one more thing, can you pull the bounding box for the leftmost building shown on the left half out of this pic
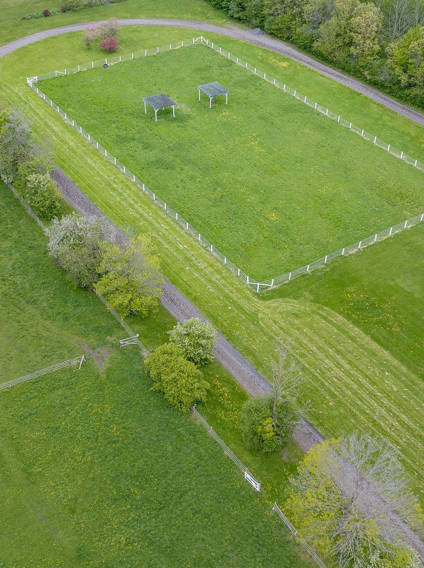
[143,91,176,120]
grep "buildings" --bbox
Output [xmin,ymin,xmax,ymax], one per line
[143,91,176,120]
[198,79,230,107]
